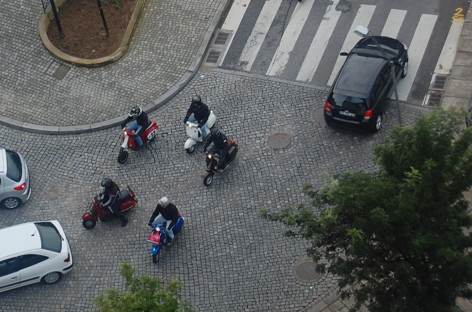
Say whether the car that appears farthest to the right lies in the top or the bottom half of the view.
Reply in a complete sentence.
It is in the top half that the car that appears farthest to the right appears.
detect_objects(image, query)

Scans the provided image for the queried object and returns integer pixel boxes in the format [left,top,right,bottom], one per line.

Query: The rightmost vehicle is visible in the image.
[319,36,410,138]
